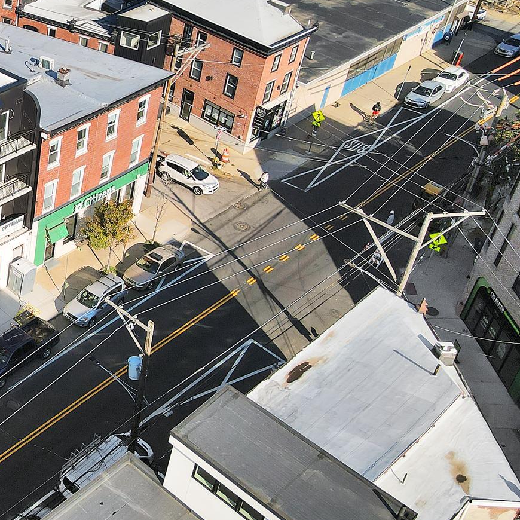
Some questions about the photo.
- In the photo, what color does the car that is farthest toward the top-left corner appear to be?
white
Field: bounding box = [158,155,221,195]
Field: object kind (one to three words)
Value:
car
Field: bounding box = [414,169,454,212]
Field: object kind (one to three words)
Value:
work vehicle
